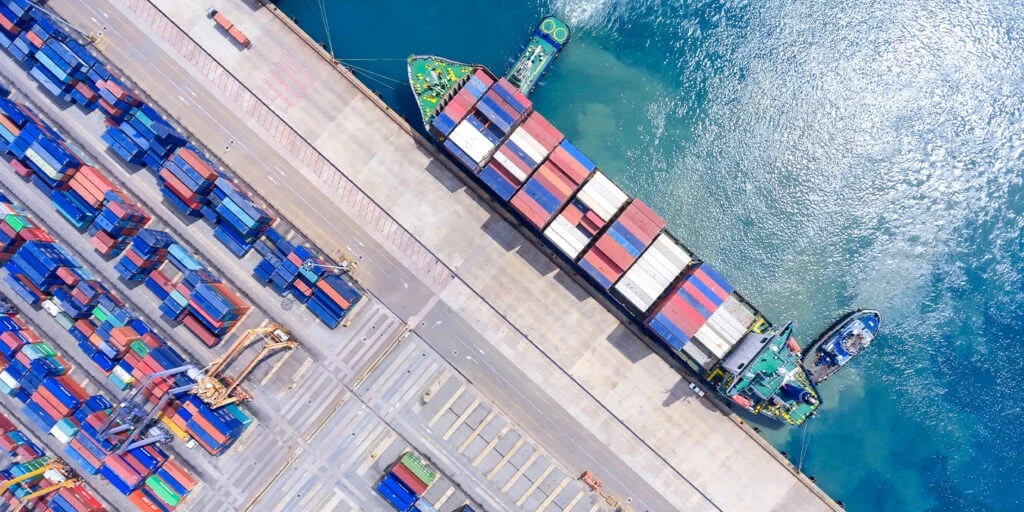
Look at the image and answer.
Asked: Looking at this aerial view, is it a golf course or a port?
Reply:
port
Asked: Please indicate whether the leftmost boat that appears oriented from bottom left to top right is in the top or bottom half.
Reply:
top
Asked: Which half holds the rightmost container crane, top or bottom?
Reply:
bottom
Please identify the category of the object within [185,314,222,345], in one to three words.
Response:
shipping container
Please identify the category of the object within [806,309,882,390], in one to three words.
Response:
boat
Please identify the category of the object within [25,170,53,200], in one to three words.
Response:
shipping container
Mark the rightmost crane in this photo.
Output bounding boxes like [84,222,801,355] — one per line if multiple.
[196,321,298,414]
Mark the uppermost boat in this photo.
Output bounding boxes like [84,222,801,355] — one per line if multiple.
[502,16,569,100]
